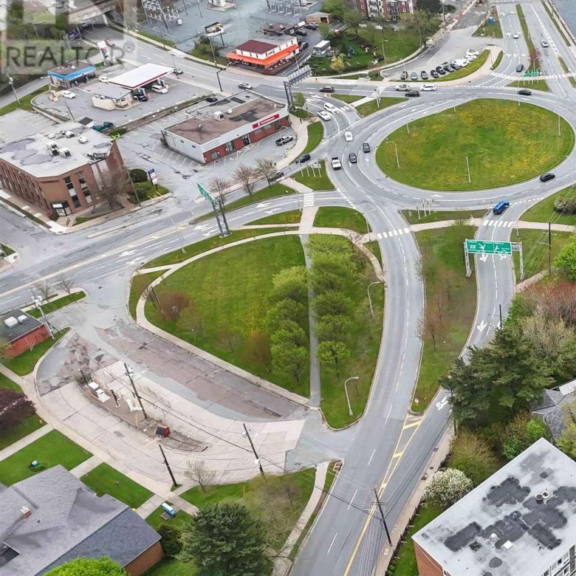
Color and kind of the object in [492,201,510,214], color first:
blue vehicle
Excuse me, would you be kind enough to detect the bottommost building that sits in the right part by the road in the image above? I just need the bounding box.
[411,435,576,576]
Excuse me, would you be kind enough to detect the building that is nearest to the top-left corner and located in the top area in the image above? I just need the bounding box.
[46,60,98,91]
